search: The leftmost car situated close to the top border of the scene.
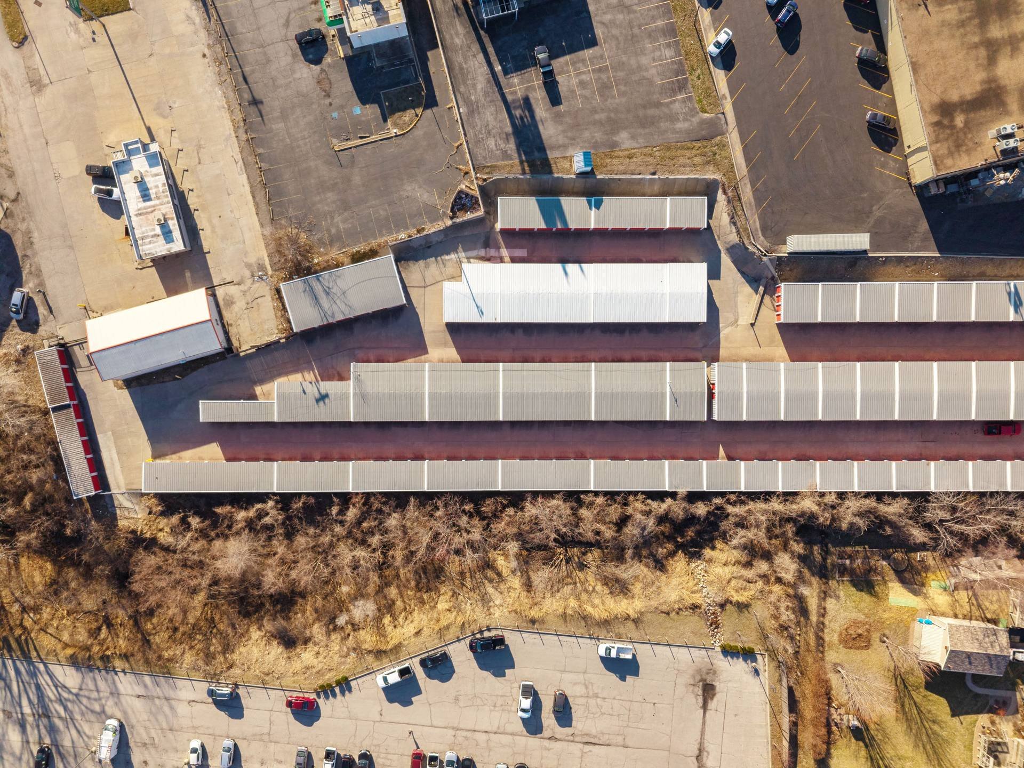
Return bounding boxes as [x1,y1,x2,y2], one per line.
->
[294,27,327,47]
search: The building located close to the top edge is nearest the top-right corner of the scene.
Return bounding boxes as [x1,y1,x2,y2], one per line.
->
[864,0,1024,187]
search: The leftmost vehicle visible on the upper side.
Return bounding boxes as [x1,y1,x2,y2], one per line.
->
[11,289,30,320]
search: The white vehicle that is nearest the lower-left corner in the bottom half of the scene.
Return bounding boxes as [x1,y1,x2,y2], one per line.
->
[92,717,121,766]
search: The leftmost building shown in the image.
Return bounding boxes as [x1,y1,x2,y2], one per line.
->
[33,345,105,499]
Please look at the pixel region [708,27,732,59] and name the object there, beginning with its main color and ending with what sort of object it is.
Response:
white car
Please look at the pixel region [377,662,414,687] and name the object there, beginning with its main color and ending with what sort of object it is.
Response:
white truck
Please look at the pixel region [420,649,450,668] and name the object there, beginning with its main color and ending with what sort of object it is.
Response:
black car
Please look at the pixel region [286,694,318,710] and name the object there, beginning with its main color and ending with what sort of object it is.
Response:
red car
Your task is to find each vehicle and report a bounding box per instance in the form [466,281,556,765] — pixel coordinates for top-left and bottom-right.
[293,744,308,768]
[377,662,414,687]
[11,289,30,320]
[708,27,732,59]
[410,747,424,768]
[92,717,121,766]
[341,753,354,768]
[444,749,458,768]
[469,633,505,652]
[207,684,238,700]
[598,643,632,659]
[462,754,474,768]
[36,743,53,768]
[87,163,117,179]
[286,694,318,710]
[294,27,327,47]
[93,185,123,201]
[420,649,450,668]
[552,686,566,715]
[775,0,798,30]
[518,679,535,717]
[218,737,235,768]
[516,761,527,768]
[321,745,336,768]
[426,749,440,768]
[535,45,556,84]
[357,748,371,768]
[982,422,1022,436]
[189,738,204,768]
[864,111,897,130]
